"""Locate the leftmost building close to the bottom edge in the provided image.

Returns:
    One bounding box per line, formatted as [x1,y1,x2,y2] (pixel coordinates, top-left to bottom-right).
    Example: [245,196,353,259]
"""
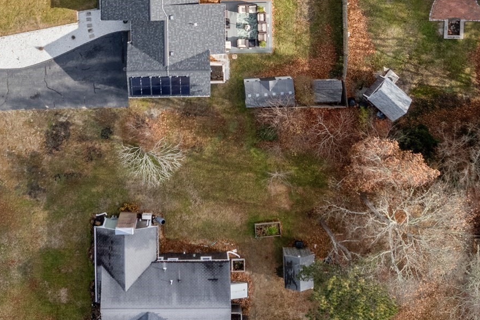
[94,210,248,320]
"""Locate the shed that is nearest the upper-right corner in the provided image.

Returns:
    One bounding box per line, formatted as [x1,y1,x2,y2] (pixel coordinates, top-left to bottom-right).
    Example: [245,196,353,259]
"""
[362,74,412,122]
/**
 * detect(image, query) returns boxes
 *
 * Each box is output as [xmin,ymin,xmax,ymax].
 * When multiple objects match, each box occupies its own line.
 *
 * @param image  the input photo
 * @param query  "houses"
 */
[94,210,248,320]
[98,0,225,98]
